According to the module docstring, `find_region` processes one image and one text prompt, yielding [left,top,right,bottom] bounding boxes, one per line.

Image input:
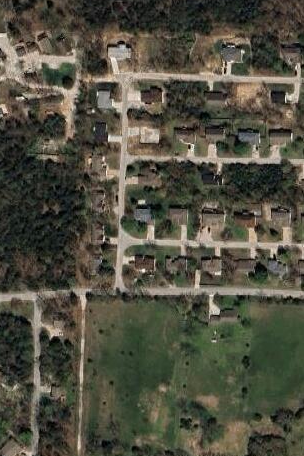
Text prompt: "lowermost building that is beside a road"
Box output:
[0,436,30,456]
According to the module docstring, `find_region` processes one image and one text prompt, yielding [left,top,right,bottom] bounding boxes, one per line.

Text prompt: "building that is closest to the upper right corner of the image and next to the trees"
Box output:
[282,45,302,65]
